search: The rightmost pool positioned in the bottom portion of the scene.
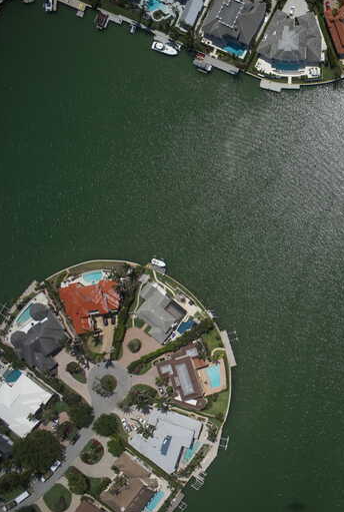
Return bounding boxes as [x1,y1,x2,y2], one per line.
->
[204,363,221,389]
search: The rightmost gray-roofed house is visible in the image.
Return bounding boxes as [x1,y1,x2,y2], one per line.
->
[260,9,322,60]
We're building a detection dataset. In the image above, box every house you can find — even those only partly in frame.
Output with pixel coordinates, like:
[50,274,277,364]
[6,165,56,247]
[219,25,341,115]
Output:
[200,0,267,46]
[0,429,17,458]
[0,373,56,437]
[59,279,123,334]
[10,302,69,372]
[324,0,344,58]
[128,409,206,475]
[76,499,107,512]
[136,282,188,345]
[155,349,210,410]
[183,0,206,27]
[100,451,156,512]
[260,9,322,60]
